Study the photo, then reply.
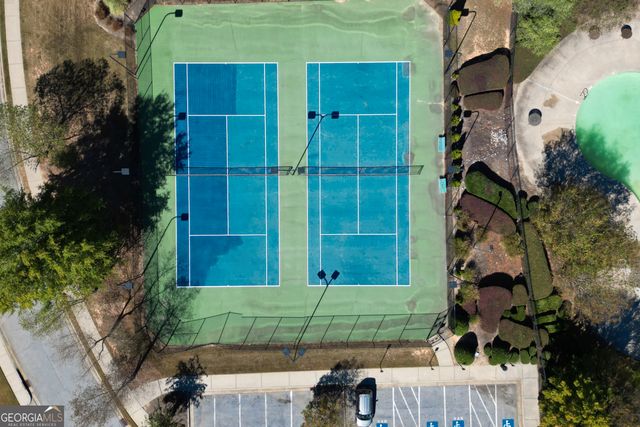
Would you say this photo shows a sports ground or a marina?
sports ground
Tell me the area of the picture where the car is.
bottom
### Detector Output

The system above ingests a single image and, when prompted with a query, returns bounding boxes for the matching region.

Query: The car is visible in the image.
[356,387,376,427]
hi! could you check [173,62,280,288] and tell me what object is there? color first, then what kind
blue tennis court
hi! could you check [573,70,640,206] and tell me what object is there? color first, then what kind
green swimming pool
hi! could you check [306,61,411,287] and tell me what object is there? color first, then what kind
blue tennis court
